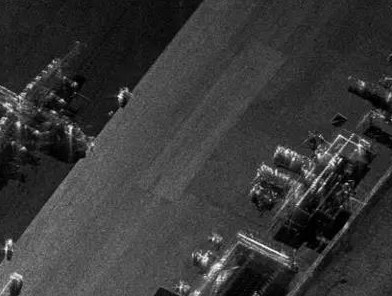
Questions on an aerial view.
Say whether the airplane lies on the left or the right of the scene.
left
